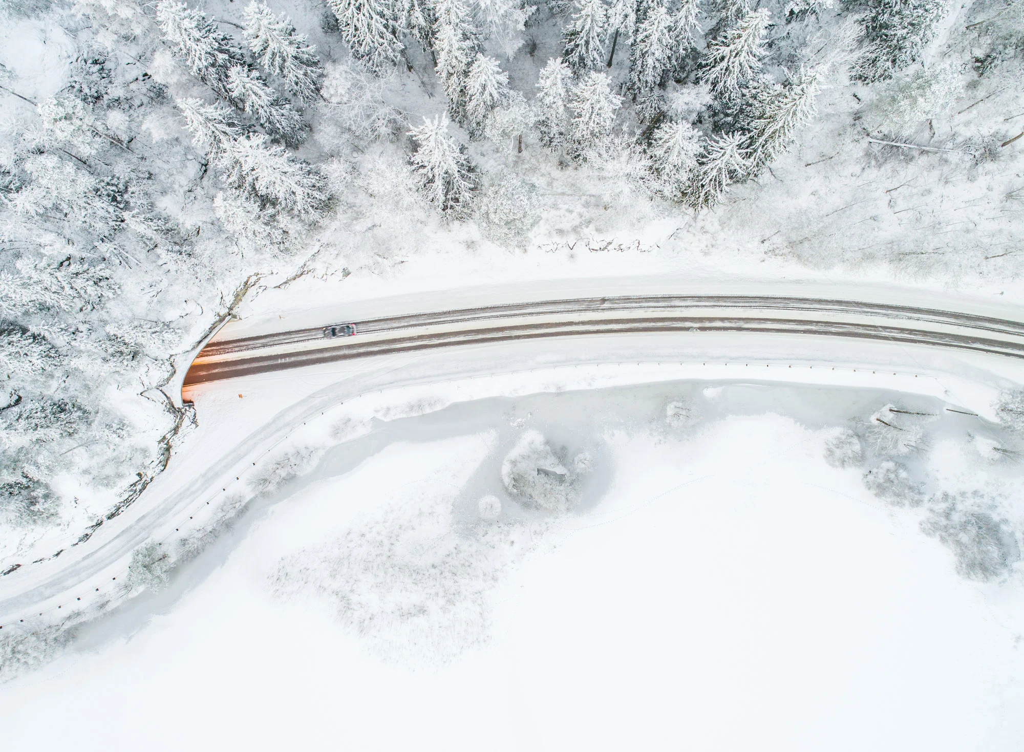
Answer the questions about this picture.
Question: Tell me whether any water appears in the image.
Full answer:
Yes, there's water in this view.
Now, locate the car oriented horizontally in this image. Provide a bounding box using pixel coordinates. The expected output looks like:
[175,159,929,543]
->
[323,323,358,340]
